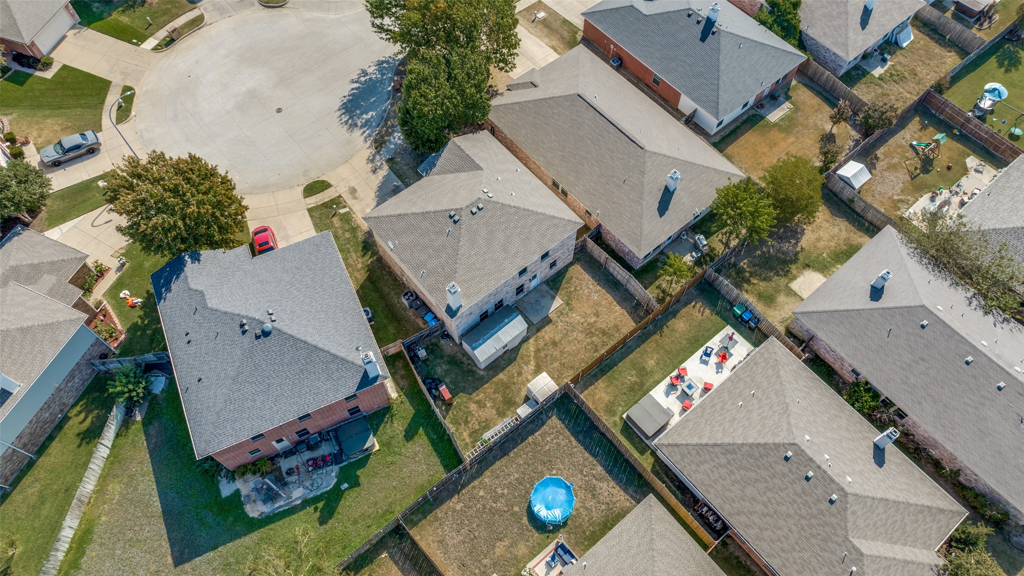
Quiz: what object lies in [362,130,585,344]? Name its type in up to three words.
house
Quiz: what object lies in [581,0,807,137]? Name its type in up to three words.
house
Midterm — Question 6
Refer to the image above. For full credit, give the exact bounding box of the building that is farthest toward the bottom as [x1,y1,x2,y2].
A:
[559,493,725,576]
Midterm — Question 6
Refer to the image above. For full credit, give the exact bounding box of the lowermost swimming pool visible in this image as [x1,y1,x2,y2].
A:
[529,475,576,525]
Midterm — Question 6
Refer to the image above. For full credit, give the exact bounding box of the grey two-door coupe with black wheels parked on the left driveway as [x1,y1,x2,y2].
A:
[37,128,101,167]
